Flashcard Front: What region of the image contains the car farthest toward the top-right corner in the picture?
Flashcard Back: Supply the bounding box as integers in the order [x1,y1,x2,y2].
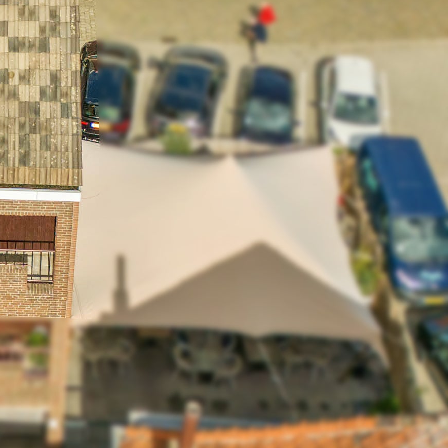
[312,58,394,148]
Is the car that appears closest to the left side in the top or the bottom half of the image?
top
